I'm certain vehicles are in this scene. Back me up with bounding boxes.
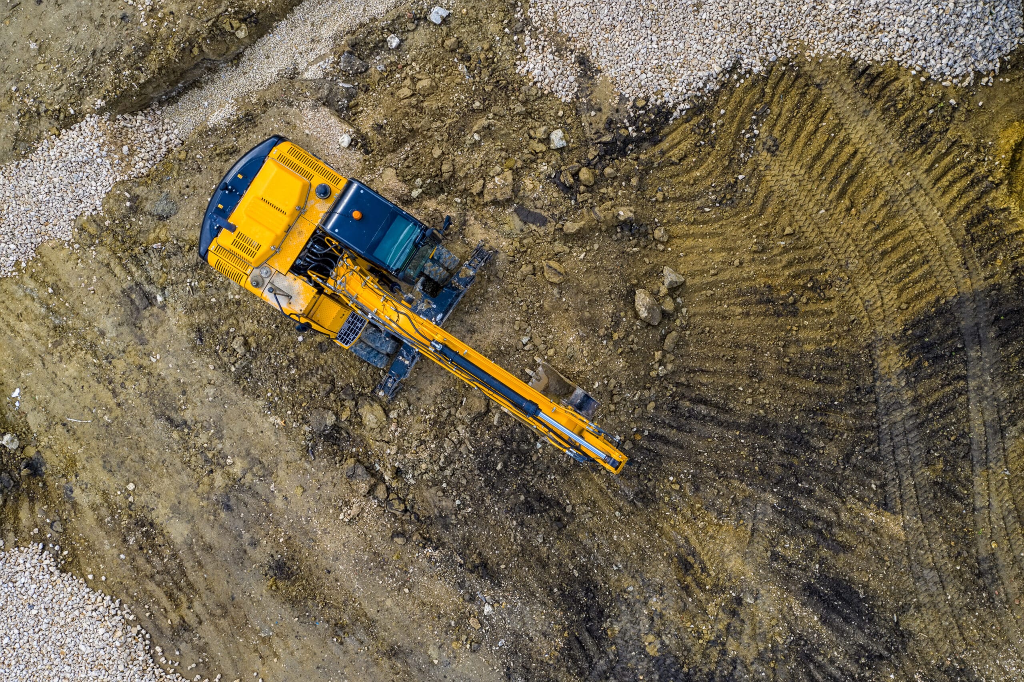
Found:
[199,135,630,476]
